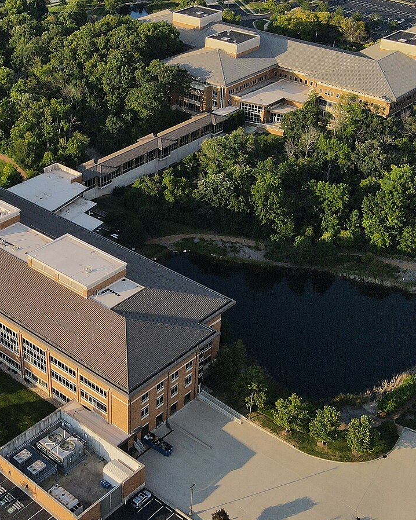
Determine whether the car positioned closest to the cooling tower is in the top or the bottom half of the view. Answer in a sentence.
The bottom half of the photo is where the car positioned closest to the cooling tower is.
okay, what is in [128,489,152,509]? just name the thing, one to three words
car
